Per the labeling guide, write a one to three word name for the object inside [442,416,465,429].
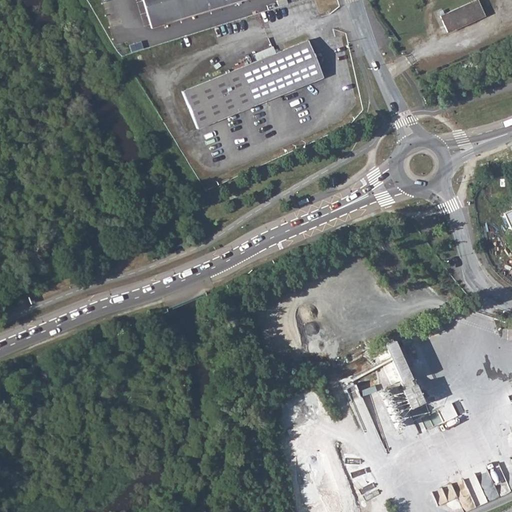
vehicle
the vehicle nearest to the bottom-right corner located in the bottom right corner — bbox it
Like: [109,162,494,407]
[488,464,500,486]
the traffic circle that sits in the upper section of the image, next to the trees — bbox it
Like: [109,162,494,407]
[372,120,471,209]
